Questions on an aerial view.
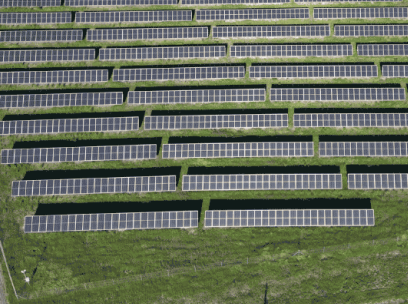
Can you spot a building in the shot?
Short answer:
No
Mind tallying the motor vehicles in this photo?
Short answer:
none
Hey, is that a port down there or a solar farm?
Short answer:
solar farm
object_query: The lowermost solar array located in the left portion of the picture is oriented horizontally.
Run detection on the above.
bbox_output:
[25,211,198,232]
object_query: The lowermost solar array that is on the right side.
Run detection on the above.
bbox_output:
[205,209,374,226]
